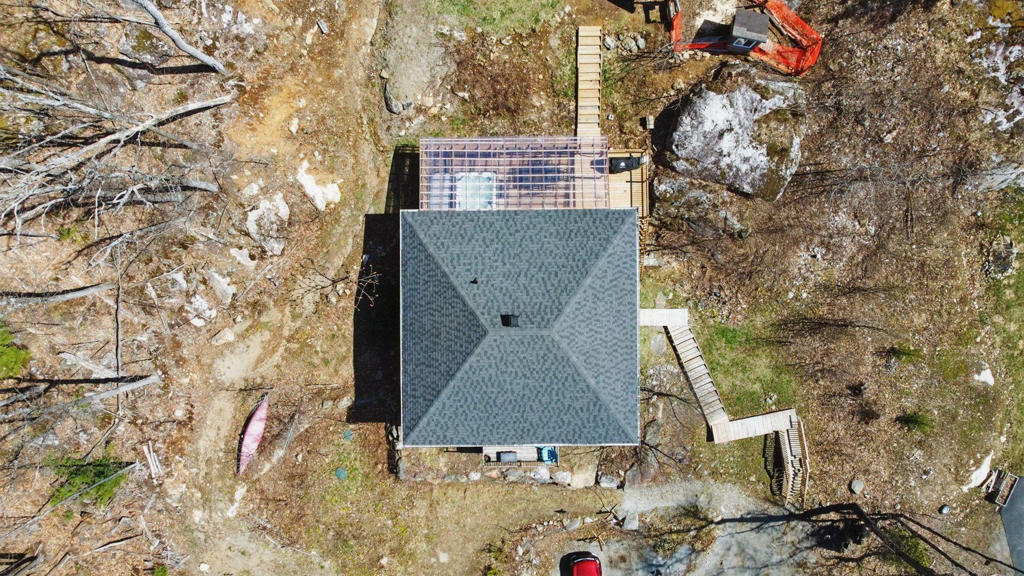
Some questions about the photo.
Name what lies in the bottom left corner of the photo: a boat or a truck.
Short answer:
boat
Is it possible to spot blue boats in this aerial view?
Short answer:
No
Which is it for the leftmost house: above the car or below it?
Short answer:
above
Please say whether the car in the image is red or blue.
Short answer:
red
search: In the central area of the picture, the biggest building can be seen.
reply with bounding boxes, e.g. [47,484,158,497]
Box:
[401,208,639,446]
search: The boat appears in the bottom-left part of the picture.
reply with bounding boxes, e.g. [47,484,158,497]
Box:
[235,395,267,476]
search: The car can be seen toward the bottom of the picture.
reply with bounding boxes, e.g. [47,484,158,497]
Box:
[569,551,601,576]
